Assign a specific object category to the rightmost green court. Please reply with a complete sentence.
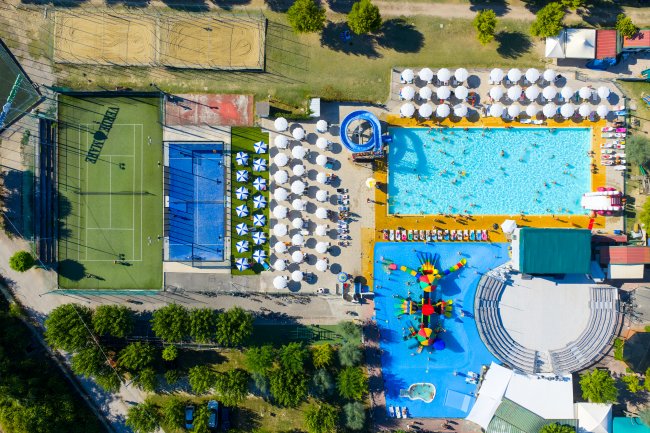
The rightmost green court can be classified as a tennis court.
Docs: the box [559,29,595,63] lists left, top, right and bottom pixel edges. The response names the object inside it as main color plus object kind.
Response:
white tent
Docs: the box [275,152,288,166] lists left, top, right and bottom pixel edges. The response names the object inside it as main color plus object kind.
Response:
white umbrella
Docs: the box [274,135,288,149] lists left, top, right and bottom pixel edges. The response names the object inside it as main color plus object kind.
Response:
white umbrella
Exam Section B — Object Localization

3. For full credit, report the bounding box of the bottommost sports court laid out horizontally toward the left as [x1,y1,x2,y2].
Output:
[164,95,253,124]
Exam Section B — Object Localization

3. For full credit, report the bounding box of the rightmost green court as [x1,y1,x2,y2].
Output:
[58,93,163,291]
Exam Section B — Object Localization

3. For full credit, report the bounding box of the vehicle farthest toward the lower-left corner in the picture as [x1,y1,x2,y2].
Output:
[183,404,196,429]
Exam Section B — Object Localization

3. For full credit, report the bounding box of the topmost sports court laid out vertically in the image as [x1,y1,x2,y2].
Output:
[0,39,42,132]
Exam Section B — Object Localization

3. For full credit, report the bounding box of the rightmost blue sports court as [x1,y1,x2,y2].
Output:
[161,139,225,264]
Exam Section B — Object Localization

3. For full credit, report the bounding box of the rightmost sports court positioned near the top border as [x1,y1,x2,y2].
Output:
[162,12,262,66]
